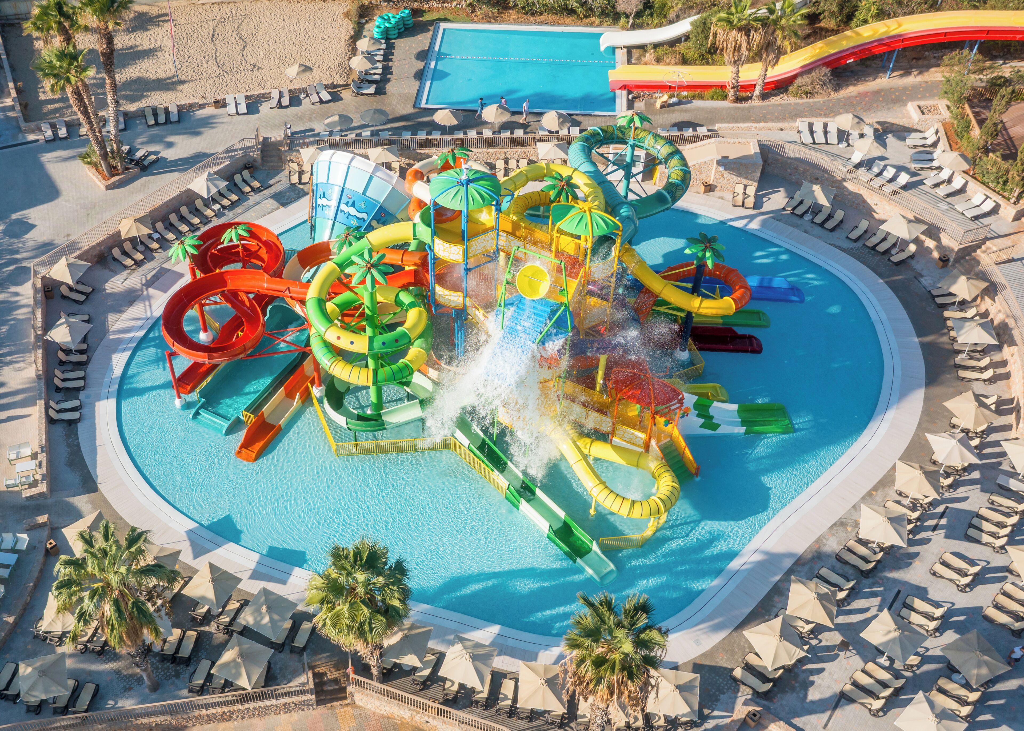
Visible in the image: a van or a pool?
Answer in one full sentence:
This aerial view contains a pool.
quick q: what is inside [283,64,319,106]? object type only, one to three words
umbrella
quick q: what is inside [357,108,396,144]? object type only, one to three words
umbrella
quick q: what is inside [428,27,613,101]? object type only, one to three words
swimming pool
